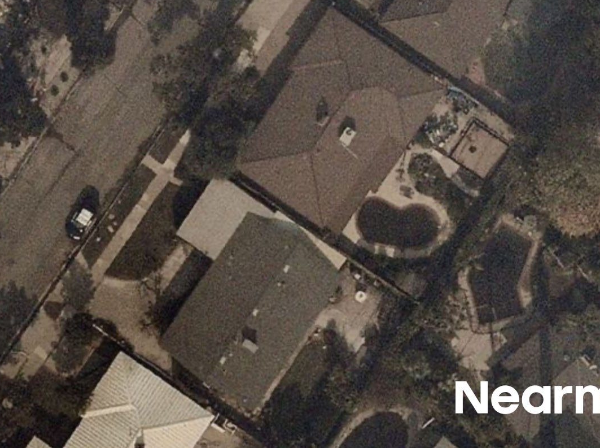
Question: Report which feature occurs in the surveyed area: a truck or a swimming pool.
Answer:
swimming pool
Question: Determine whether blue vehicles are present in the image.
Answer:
No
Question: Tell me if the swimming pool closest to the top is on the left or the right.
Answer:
right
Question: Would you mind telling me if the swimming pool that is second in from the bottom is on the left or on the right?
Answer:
right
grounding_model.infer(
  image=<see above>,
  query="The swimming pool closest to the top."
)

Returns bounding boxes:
[355,195,442,252]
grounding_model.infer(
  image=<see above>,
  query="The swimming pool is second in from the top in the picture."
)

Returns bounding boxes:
[467,224,532,327]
